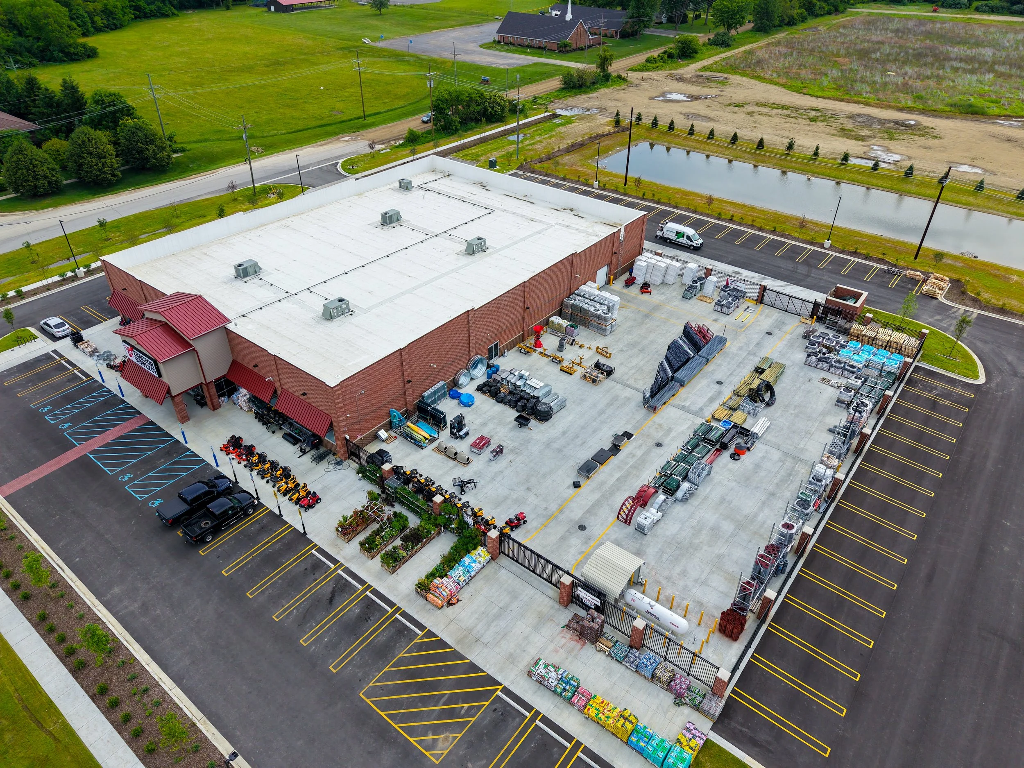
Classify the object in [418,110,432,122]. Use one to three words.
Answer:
vehicle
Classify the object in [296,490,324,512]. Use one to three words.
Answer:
work vehicle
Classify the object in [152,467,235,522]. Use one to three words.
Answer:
truck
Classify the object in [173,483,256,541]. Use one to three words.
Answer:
truck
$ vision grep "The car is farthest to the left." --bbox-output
[36,312,74,335]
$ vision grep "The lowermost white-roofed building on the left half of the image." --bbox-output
[104,154,643,461]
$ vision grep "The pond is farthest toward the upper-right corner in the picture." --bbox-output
[600,143,1024,269]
